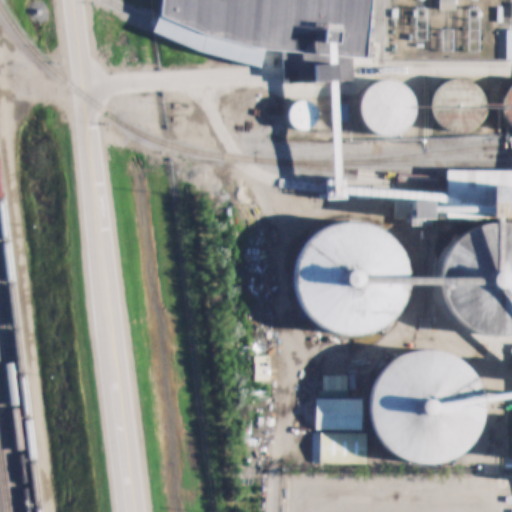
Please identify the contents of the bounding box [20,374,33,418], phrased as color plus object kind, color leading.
white rail car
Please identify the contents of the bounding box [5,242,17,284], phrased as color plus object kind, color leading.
white rail car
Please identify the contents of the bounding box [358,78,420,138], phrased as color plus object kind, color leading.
white storage tank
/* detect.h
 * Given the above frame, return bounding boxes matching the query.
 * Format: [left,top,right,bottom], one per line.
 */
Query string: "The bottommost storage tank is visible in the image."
[366,348,488,466]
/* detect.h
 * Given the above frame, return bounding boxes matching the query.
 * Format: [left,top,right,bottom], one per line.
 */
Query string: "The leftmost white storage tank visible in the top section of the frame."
[284,98,320,132]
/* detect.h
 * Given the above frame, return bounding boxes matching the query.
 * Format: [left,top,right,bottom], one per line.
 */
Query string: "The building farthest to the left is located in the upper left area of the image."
[28,1,50,28]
